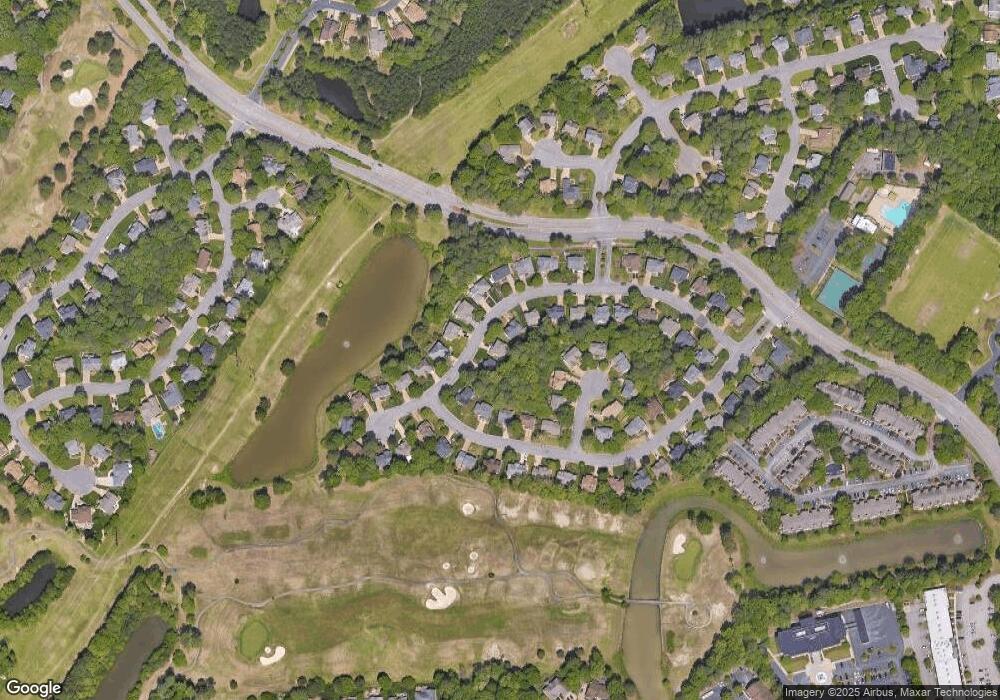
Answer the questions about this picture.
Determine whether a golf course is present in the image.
Yes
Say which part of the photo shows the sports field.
right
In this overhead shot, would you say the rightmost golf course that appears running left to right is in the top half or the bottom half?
bottom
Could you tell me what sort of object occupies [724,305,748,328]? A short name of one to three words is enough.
house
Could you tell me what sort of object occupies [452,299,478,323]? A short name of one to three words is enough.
house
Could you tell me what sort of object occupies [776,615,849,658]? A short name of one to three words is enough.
building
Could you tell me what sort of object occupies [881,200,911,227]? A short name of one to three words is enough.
swimming pool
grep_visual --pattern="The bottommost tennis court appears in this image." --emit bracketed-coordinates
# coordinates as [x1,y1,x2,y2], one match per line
[816,268,866,314]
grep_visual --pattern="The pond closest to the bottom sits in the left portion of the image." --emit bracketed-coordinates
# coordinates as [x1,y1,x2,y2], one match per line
[96,617,167,700]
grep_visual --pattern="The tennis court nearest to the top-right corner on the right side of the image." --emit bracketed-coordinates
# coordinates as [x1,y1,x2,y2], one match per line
[864,242,891,269]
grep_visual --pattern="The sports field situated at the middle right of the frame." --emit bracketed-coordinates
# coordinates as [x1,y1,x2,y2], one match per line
[882,206,1000,347]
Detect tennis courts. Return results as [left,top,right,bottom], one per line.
[864,242,891,269]
[816,268,866,314]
